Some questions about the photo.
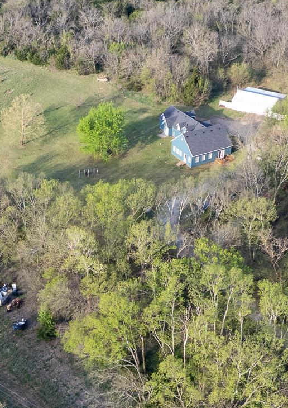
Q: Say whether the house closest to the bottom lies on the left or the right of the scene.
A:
right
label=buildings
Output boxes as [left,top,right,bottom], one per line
[154,101,236,168]
[230,82,281,116]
